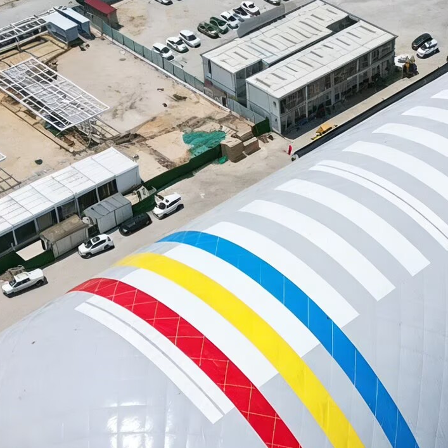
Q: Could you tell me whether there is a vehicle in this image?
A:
Yes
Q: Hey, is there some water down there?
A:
No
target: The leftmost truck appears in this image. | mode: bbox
[2,266,45,296]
